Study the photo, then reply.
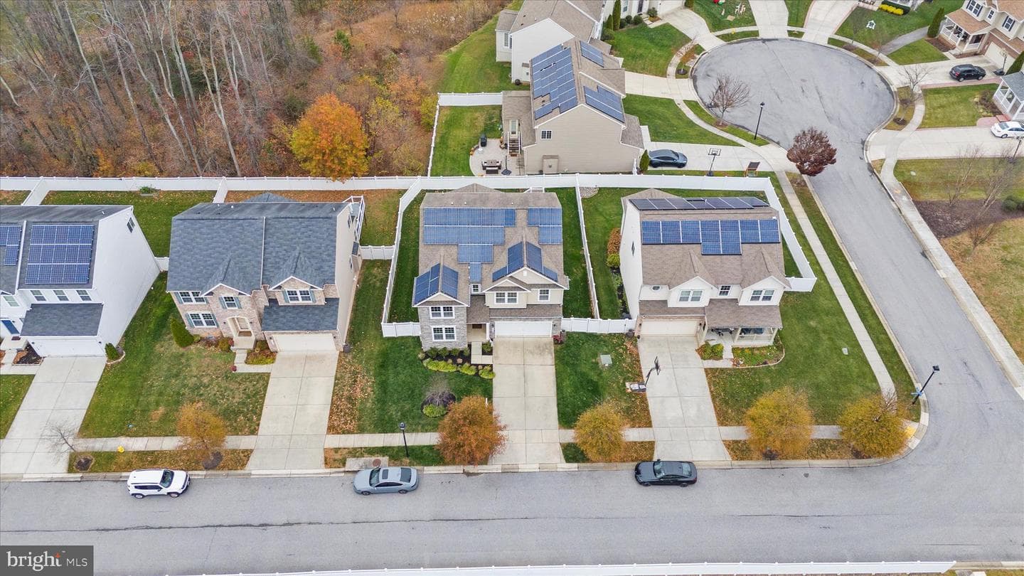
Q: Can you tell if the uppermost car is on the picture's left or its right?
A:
right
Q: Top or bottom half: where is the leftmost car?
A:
bottom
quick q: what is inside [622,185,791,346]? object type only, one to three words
house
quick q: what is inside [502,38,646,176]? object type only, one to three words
house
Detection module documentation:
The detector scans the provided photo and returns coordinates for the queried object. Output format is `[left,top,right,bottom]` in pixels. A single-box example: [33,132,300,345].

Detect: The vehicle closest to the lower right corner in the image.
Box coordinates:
[636,457,699,486]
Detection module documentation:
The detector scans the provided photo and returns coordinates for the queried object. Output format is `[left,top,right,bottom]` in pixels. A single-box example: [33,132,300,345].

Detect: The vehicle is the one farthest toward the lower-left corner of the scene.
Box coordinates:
[125,468,187,498]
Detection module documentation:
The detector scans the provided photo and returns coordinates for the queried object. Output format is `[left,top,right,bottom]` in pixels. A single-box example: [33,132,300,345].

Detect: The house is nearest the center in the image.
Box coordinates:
[411,176,568,350]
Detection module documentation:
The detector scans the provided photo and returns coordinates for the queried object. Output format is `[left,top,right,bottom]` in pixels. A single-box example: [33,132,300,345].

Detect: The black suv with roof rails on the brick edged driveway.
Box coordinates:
[950,57,990,79]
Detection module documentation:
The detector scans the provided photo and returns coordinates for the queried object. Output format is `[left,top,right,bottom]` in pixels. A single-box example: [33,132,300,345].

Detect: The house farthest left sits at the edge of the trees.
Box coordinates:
[0,206,156,355]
